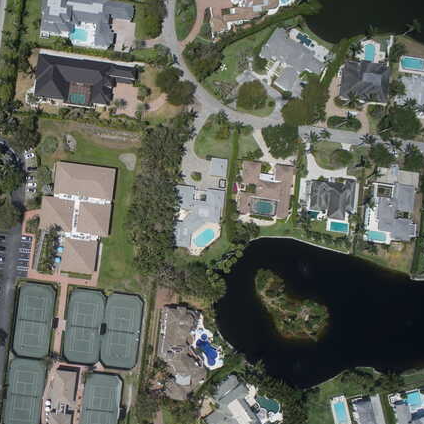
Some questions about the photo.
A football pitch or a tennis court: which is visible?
tennis court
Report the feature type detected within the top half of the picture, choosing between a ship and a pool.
pool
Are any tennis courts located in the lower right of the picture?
No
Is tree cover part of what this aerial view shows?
Yes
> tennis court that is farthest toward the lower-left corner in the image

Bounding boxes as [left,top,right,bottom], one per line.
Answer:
[2,358,47,424]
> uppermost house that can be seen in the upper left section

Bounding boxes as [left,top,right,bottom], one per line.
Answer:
[39,0,135,50]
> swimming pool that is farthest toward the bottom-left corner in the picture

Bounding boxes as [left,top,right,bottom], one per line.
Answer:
[190,314,224,371]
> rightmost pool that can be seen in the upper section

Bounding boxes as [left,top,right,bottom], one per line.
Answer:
[400,54,424,76]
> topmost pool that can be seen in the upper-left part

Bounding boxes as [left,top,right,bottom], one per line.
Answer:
[67,27,94,47]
